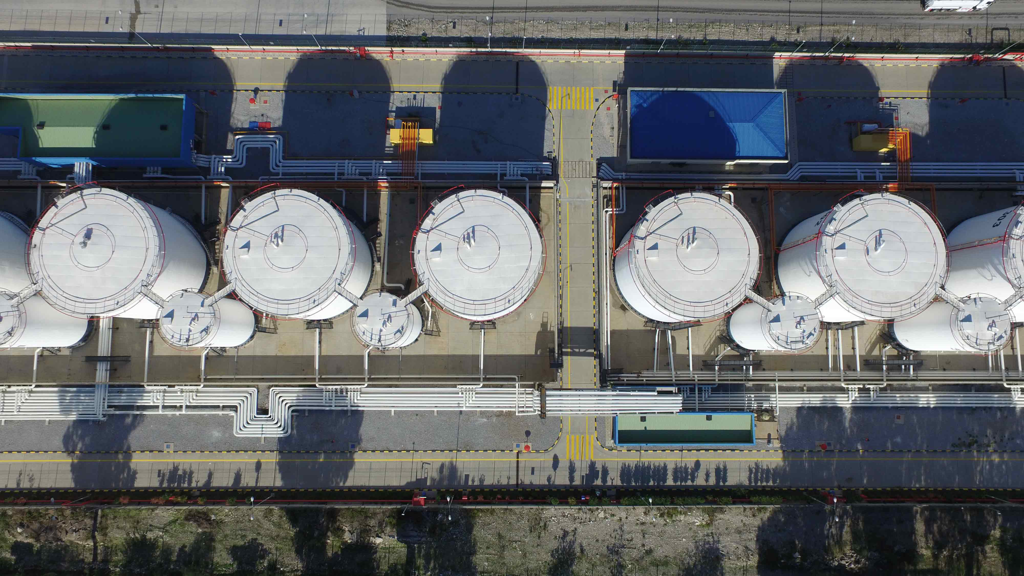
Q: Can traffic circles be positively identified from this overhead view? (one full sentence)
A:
No, the scene contains no traffic circle.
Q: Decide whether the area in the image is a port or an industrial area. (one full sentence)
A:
What you see here is an industrial area.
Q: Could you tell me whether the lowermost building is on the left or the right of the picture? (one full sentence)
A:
The lowermost building appears in the right half of the scene.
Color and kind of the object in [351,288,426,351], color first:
white storage tank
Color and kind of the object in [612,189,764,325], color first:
white storage tank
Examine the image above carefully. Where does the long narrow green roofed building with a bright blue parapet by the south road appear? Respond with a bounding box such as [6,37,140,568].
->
[612,410,756,446]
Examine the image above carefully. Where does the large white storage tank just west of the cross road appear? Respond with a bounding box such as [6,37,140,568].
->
[410,187,547,322]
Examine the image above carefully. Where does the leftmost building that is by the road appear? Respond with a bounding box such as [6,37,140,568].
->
[0,94,207,165]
